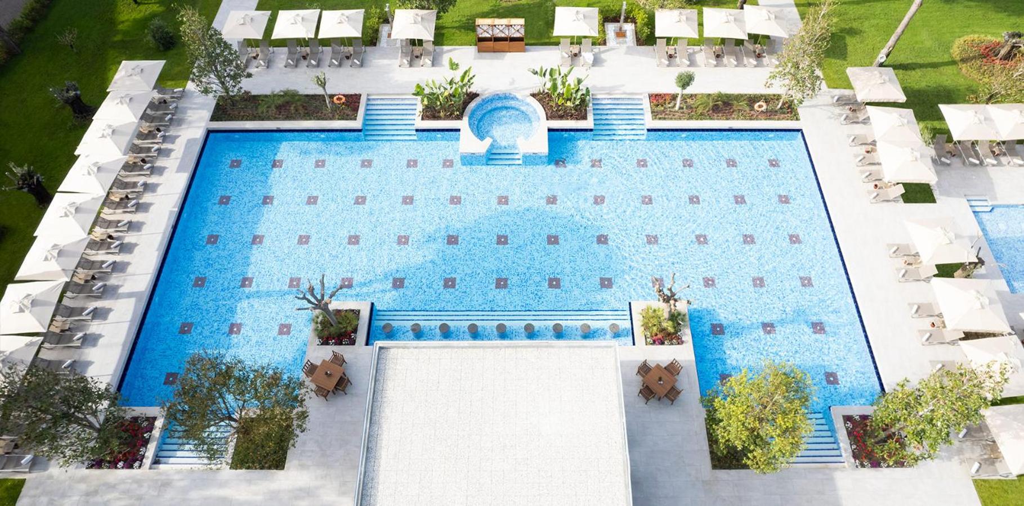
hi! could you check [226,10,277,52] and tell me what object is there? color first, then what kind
white umbrella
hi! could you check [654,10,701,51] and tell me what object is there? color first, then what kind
white umbrella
